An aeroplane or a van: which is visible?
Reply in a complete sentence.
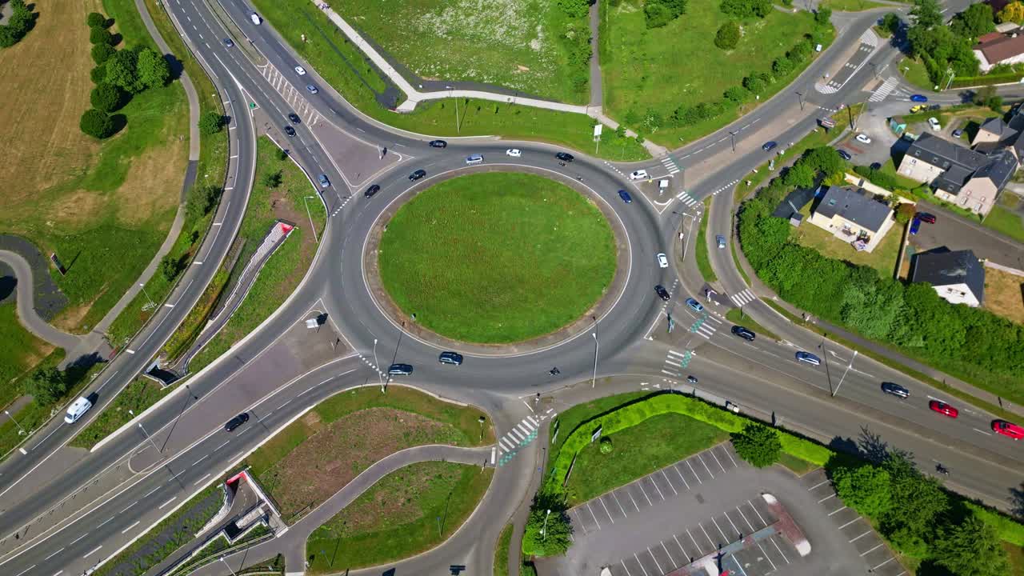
The one in the frame is a van.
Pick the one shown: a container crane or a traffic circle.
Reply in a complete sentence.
There is a traffic circle in the scene.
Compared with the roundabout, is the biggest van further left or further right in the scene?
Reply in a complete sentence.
Relative to the roundabout, the biggest van lies to the left.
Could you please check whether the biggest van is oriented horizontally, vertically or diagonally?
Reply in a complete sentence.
In this picture, the biggest van lies diagonally.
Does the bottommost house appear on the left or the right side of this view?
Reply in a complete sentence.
It is on the right.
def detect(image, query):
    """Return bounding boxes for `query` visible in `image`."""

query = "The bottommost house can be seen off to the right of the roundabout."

[918,249,987,305]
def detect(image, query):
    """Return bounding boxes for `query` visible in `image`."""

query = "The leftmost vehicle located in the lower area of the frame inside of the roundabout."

[388,363,413,376]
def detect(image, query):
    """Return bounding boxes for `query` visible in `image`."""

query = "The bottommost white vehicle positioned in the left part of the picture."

[63,392,96,425]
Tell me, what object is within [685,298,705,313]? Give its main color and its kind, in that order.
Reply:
blue car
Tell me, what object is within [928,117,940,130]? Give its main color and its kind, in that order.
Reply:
white vehicle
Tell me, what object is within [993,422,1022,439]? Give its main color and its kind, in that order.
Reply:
red car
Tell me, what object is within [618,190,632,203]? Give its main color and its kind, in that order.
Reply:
blue vehicle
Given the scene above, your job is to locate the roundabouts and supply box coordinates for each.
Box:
[277,122,708,433]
